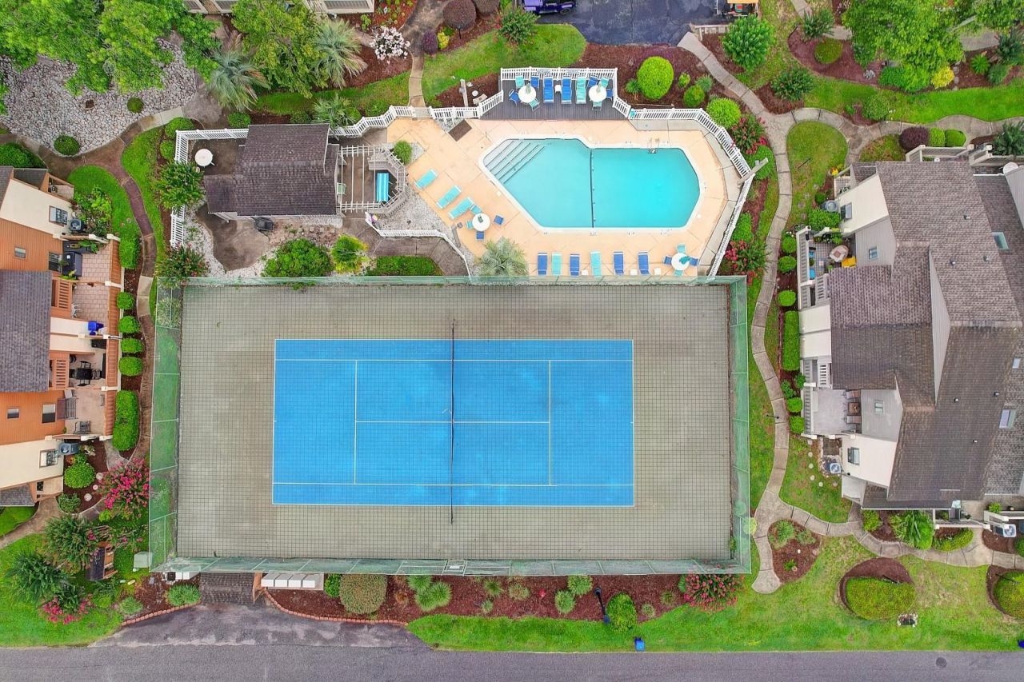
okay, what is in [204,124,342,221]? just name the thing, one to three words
building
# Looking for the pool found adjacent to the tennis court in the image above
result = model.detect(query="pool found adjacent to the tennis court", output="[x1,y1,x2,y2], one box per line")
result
[479,133,707,234]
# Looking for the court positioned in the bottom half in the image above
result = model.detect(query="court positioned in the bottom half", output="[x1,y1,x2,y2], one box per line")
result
[177,285,731,558]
